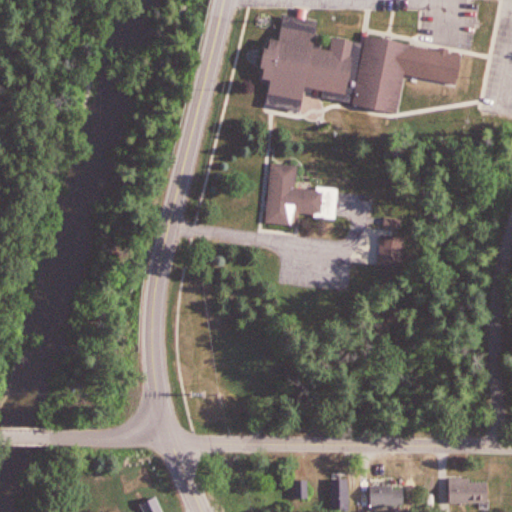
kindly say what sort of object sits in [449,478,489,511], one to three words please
house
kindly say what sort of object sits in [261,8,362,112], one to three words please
building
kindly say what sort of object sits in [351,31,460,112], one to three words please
building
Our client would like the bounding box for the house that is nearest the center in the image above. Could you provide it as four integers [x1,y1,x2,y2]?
[264,166,339,226]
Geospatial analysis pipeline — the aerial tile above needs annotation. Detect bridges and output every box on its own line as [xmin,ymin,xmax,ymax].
[0,427,50,448]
